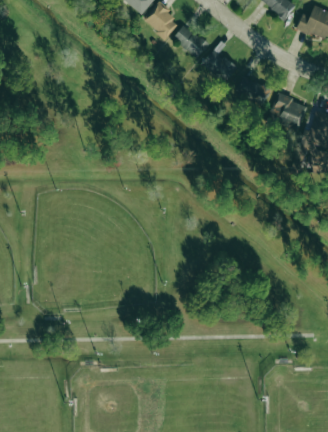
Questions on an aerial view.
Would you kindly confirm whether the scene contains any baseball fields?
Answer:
Yes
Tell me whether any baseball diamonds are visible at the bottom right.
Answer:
Yes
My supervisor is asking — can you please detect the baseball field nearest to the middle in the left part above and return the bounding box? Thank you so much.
[34,189,156,314]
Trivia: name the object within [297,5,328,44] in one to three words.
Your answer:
house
